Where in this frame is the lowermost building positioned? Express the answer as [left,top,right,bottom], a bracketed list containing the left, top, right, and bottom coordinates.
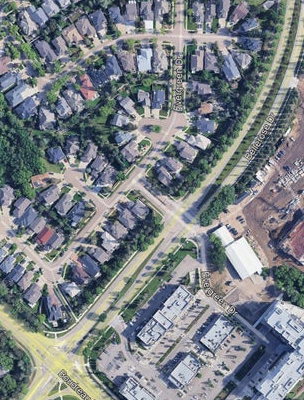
[119,378,156,400]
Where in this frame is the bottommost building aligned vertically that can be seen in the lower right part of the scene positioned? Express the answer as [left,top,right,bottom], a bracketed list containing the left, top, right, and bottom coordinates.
[253,295,304,400]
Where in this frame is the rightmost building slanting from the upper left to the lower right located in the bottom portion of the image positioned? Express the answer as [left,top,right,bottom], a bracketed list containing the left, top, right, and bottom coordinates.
[212,224,263,279]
